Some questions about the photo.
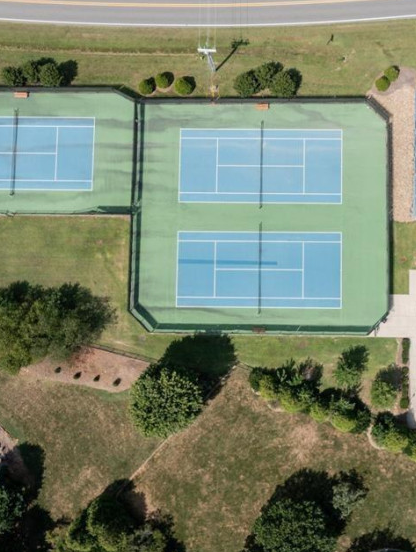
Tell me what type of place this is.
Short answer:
sports ground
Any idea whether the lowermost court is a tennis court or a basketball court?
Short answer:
tennis court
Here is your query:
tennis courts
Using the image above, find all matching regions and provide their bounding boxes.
[0,92,134,214]
[136,103,389,217]
[135,217,389,334]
